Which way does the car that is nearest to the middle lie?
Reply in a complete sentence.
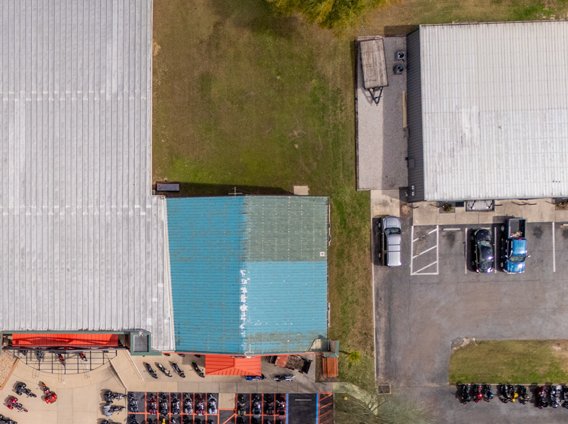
The car that is nearest to the middle is oriented up and down.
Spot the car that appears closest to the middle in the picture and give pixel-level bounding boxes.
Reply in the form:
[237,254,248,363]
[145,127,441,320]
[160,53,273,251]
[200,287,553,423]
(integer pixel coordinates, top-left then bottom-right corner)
[379,217,404,266]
